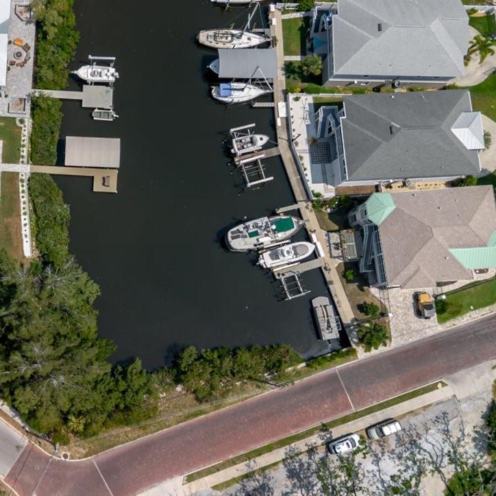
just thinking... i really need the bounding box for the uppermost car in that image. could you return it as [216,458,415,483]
[416,291,434,320]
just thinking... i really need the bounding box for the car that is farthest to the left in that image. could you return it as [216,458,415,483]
[327,434,360,454]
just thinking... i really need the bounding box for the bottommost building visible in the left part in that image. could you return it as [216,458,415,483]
[64,136,120,170]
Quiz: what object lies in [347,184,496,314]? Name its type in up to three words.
house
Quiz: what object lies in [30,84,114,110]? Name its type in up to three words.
pier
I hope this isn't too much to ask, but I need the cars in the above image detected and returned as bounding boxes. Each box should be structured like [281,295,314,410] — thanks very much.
[365,419,402,438]
[327,434,360,454]
[416,291,434,320]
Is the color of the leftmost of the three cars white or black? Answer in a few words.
white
